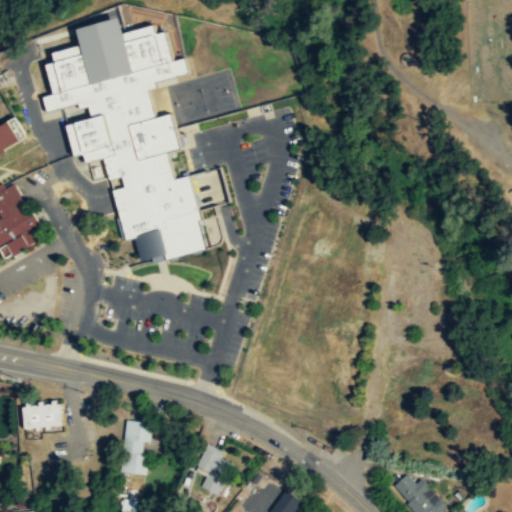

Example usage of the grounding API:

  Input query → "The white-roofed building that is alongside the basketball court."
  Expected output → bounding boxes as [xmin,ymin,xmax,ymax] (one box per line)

[42,18,206,262]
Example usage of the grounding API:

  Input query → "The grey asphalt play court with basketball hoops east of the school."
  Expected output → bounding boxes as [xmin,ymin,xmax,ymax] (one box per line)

[167,68,242,126]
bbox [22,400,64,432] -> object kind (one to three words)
house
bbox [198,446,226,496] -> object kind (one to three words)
house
